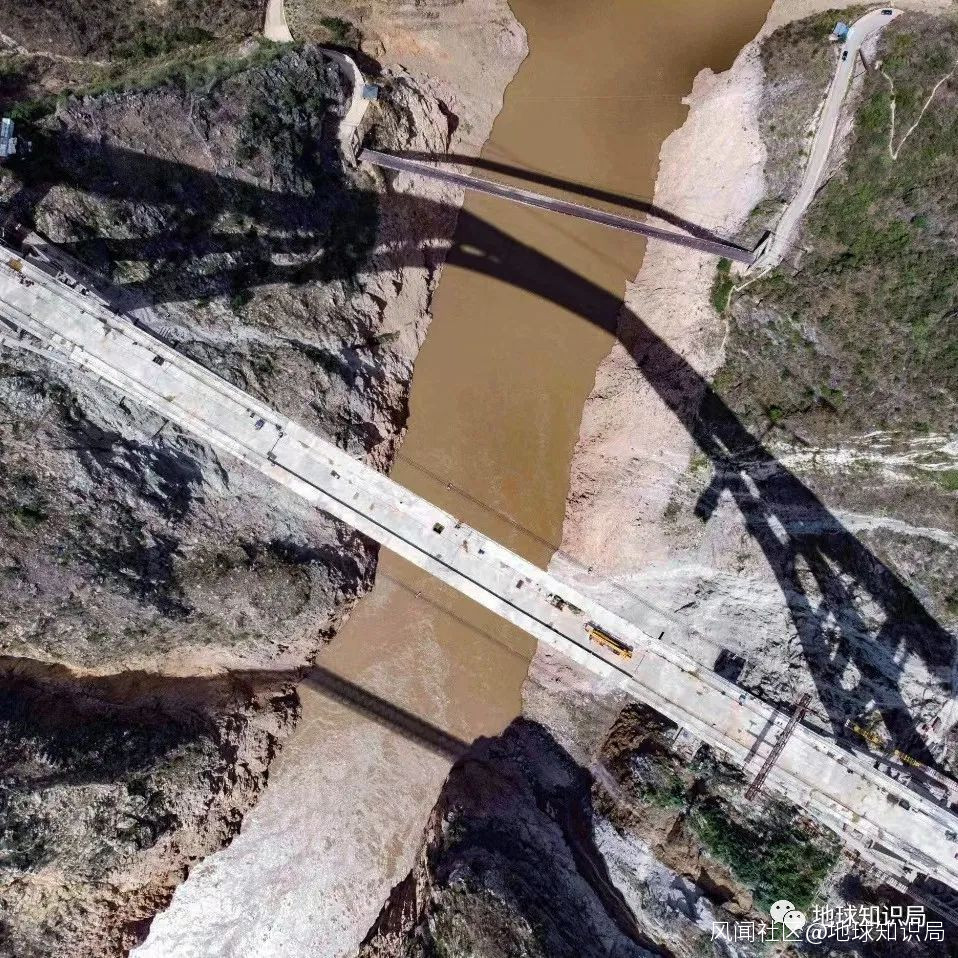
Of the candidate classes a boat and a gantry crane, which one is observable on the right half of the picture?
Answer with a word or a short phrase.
gantry crane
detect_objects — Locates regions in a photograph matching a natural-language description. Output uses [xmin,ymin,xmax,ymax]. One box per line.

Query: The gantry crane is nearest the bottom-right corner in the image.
[739,696,814,799]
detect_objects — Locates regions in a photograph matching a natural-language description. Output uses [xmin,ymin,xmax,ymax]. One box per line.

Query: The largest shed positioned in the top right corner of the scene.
[827,16,854,45]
